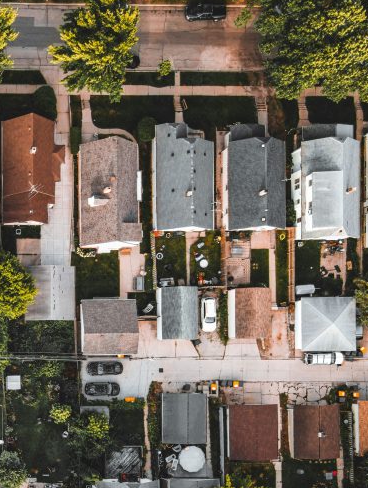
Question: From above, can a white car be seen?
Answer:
Yes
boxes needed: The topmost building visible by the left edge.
[1,113,65,233]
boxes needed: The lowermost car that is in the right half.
[304,351,343,368]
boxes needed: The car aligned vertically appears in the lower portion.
[200,297,218,333]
